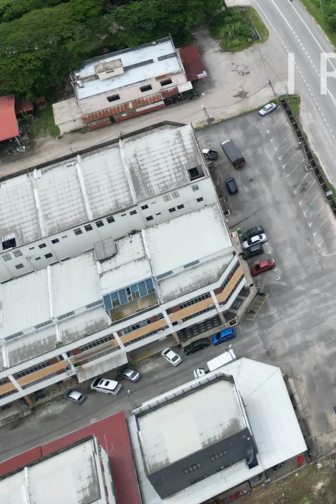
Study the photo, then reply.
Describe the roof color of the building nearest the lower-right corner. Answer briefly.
white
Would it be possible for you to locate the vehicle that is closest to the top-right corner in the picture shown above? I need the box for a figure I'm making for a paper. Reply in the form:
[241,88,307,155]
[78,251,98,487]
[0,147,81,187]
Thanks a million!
[257,102,279,117]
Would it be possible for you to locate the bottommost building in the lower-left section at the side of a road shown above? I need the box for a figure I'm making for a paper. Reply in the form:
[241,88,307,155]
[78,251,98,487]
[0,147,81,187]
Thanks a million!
[0,411,140,504]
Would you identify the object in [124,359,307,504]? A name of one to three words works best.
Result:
building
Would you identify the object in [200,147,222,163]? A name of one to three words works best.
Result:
vehicle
